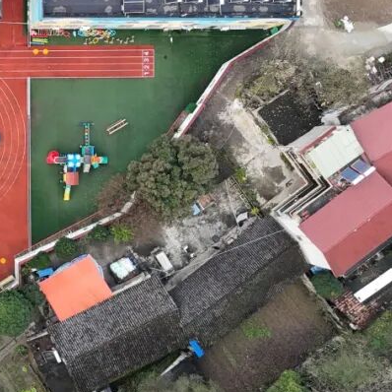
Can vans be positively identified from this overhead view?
No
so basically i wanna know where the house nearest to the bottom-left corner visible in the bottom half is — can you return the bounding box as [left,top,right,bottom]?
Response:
[46,276,188,392]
